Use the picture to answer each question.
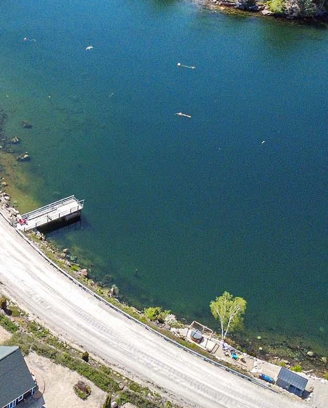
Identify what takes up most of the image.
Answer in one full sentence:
The bulk of the photo consists of water.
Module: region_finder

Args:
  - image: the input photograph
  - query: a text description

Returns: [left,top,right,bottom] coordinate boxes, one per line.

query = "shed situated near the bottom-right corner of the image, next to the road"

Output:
[272,367,302,401]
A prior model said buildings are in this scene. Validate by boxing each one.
[272,367,302,401]
[0,341,37,408]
